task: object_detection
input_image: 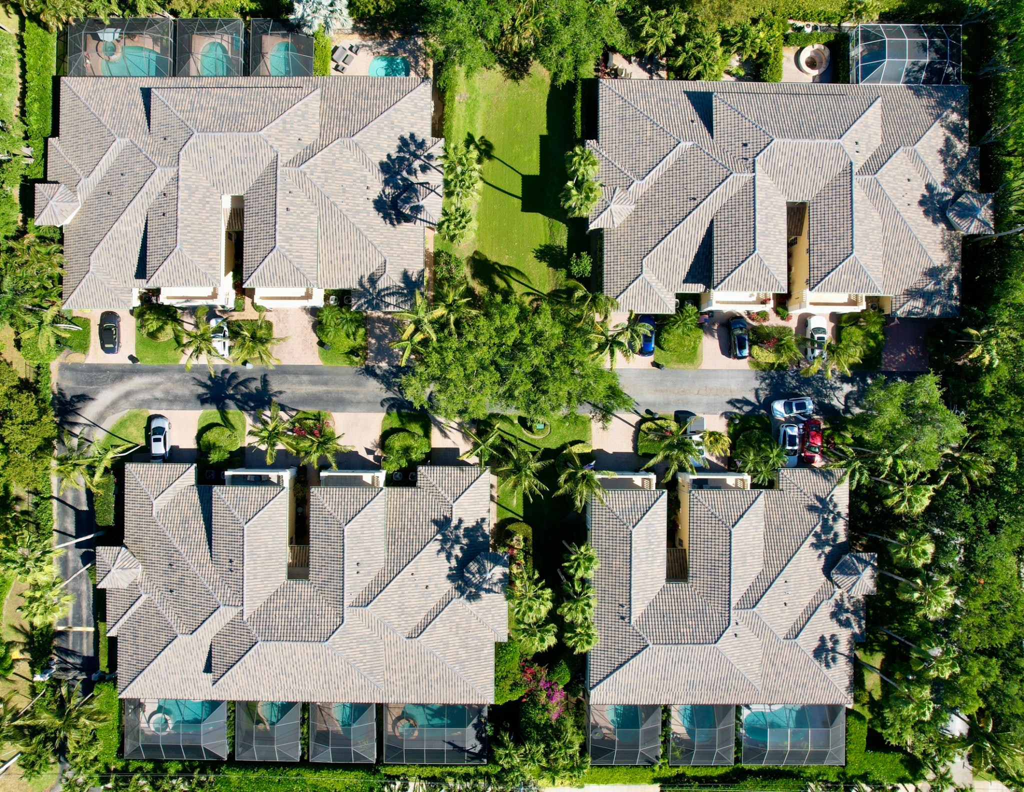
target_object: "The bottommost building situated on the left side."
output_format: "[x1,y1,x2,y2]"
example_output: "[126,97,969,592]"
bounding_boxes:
[95,462,511,704]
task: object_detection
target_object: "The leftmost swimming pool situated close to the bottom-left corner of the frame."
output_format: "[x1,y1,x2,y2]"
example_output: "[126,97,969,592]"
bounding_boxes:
[129,701,229,756]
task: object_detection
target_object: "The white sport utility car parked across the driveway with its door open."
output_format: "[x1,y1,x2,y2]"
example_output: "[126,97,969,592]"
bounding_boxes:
[769,397,814,418]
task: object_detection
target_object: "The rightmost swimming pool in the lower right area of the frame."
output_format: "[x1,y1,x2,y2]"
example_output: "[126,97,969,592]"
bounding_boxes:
[743,704,840,759]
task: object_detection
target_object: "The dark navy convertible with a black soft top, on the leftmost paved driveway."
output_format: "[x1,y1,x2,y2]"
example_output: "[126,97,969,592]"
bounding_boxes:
[99,312,123,355]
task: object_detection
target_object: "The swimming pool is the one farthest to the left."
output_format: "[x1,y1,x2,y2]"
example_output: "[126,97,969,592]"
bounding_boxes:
[56,18,174,76]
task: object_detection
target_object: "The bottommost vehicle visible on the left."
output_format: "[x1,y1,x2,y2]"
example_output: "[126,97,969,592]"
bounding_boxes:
[148,417,172,461]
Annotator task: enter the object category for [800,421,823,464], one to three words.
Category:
car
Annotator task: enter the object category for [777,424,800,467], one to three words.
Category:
car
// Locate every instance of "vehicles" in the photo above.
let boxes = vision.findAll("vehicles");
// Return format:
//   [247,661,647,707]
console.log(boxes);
[727,317,750,360]
[637,316,657,357]
[800,421,823,464]
[777,424,800,467]
[799,420,805,436]
[769,397,814,418]
[209,318,232,359]
[99,312,123,355]
[148,417,172,461]
[805,318,828,359]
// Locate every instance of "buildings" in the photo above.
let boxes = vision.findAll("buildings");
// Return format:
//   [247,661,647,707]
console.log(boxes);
[95,462,511,704]
[32,74,447,314]
[495,466,879,705]
[583,78,994,320]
